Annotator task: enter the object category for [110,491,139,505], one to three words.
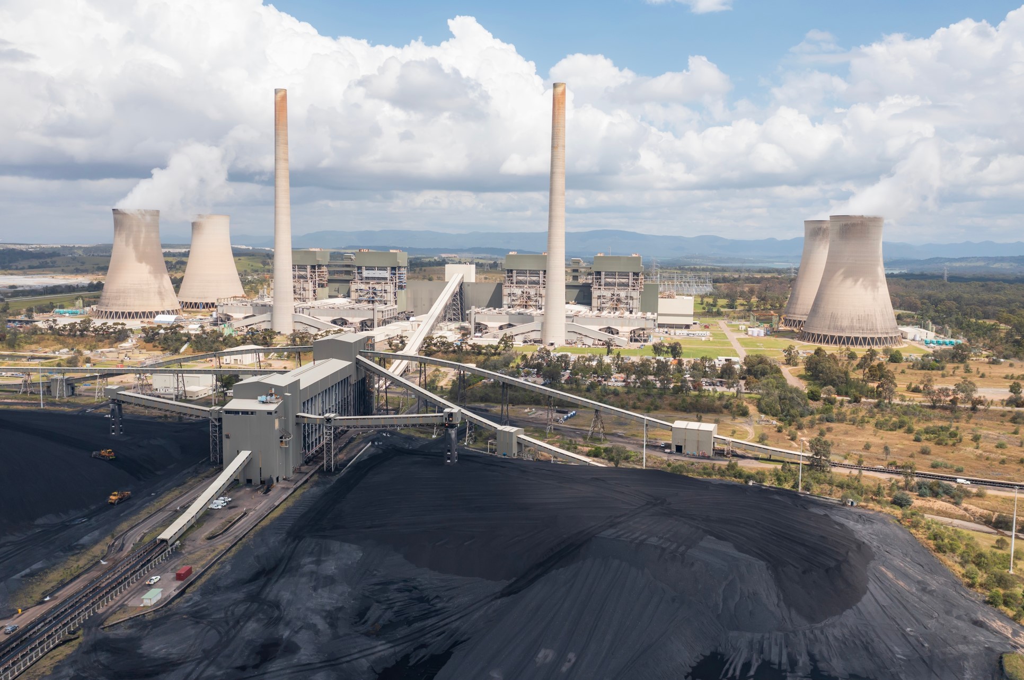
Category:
work vehicle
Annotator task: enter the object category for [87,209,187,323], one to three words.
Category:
cooling tower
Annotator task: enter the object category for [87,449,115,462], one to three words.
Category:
vehicle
